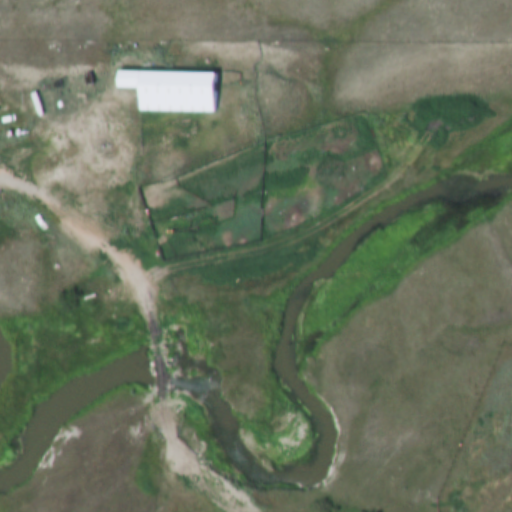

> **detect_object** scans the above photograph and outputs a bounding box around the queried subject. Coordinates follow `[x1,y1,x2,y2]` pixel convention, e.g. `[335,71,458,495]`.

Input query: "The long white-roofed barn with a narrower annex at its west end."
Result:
[118,70,218,113]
